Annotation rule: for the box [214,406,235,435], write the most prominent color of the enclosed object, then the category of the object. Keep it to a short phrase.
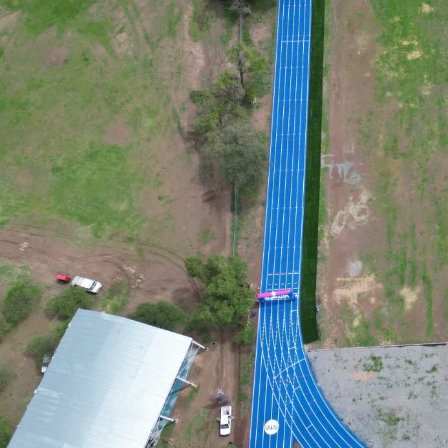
white truck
